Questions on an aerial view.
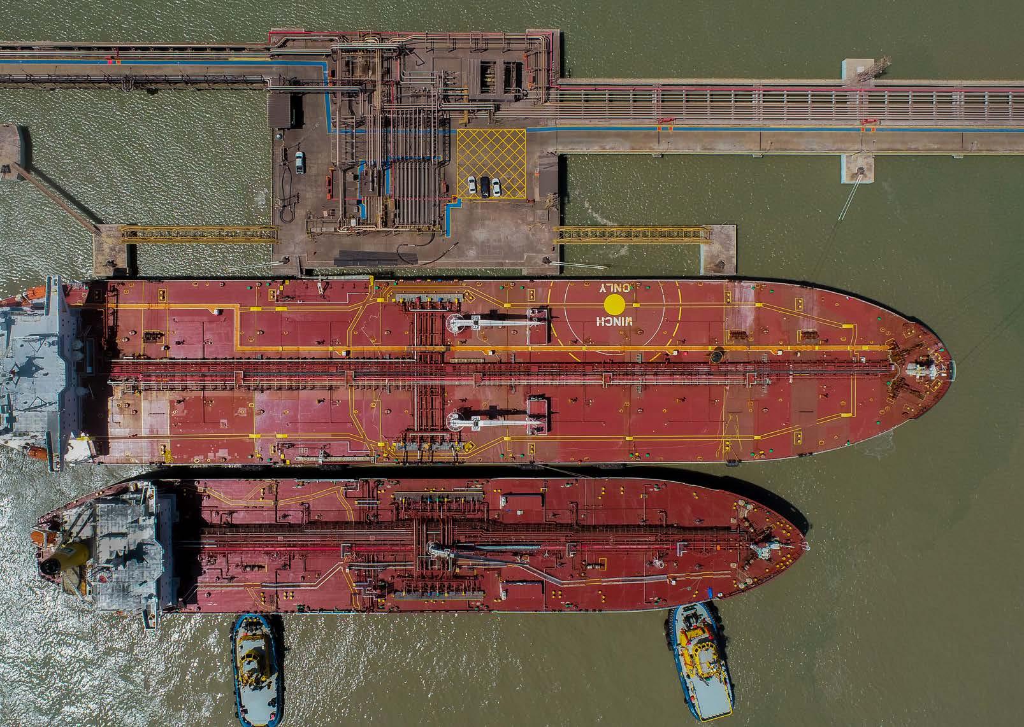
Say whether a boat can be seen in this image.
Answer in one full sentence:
Yes, a boat appears in the view.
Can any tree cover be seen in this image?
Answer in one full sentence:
No, no tree cover is visible.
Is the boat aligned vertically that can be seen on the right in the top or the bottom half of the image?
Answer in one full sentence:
It is in the bottom half that the boat aligned vertically that can be seen on the right appears.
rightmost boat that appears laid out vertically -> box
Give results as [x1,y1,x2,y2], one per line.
[669,603,738,723]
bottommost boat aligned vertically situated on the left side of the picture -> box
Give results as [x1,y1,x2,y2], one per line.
[232,615,282,727]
